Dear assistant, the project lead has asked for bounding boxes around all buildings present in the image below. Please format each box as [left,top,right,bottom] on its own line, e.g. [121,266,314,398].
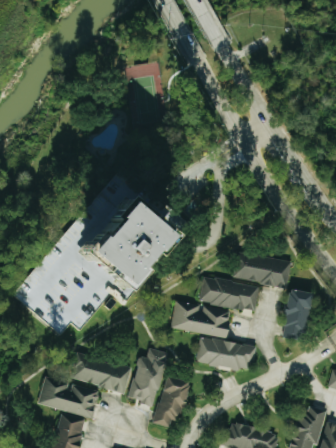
[292,406,328,448]
[152,376,190,428]
[129,346,167,408]
[172,299,231,340]
[226,424,280,448]
[238,257,292,292]
[200,276,260,313]
[38,377,100,420]
[282,289,314,336]
[90,194,182,290]
[56,416,86,448]
[72,349,132,394]
[197,337,256,374]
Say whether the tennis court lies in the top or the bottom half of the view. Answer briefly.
top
